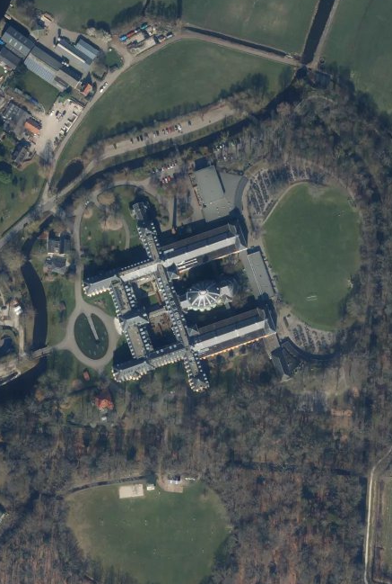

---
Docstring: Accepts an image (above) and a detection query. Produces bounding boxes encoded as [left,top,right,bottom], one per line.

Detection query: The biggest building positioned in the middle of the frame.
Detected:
[83,203,283,390]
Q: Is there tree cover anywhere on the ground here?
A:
Yes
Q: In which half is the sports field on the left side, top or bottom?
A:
bottom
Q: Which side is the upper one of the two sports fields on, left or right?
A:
right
